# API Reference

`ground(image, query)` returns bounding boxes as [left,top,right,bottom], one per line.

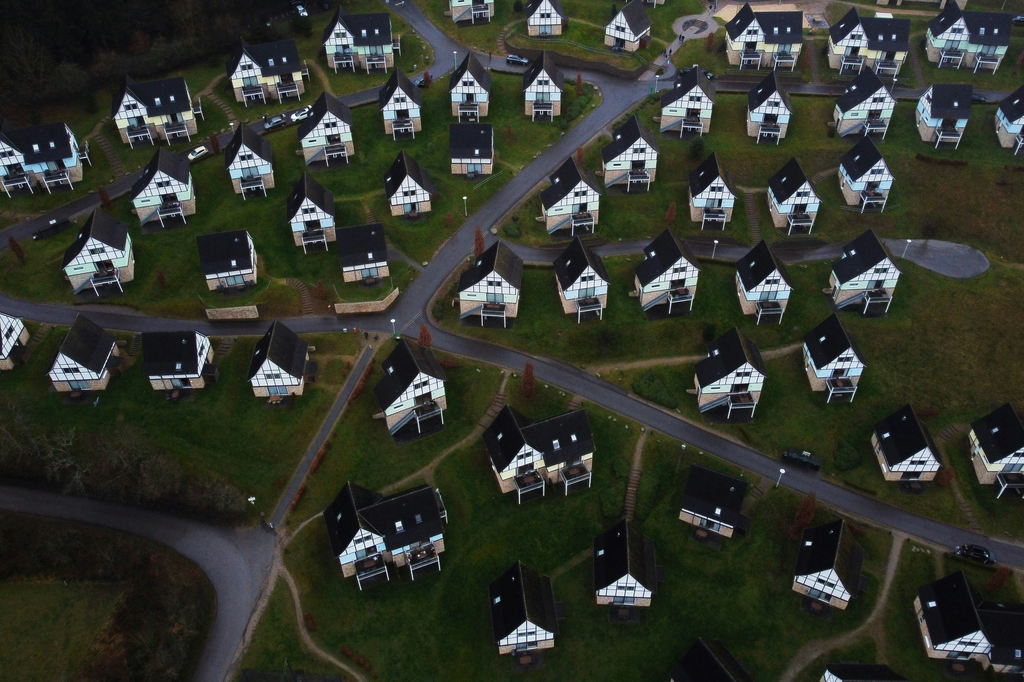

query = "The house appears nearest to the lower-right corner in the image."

[915,573,1024,681]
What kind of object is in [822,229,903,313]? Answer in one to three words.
house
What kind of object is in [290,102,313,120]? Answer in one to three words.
car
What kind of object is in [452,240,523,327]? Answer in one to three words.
house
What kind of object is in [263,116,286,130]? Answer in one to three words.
car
